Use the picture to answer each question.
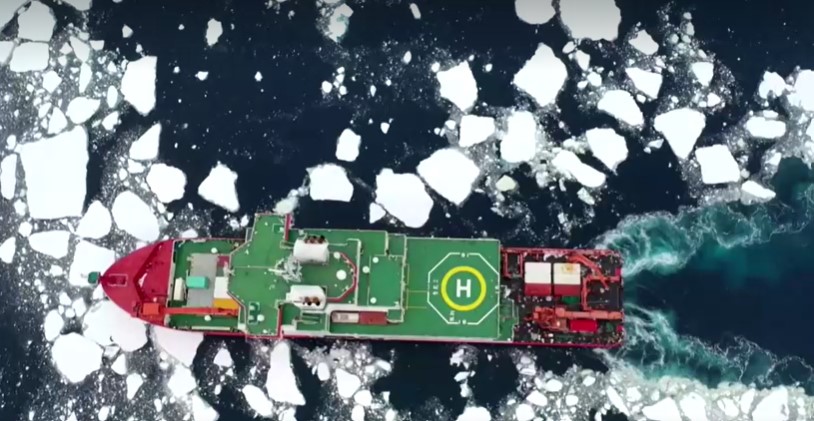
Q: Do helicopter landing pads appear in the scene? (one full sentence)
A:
Yes, the photo shows a helicopter landing pad.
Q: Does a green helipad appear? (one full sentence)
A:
Yes, there is a green helipad in the image.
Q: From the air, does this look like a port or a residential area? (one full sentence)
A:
The area seen from above is a port.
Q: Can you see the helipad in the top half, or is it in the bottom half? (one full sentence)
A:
You can find the helipad in the bottom half.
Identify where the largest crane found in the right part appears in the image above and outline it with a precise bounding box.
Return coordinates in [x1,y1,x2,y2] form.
[529,304,621,330]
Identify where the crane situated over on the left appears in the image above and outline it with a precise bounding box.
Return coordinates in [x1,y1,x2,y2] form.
[134,303,240,316]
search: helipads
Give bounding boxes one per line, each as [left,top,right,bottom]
[402,236,501,347]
